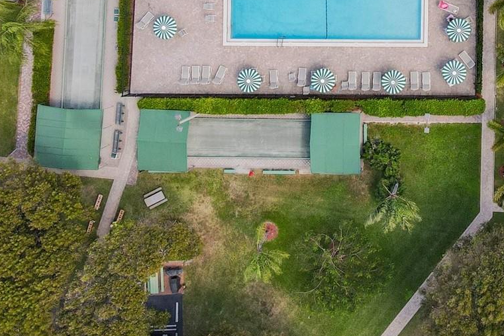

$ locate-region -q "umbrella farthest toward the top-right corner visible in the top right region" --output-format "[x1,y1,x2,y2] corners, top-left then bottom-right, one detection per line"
[446,18,471,41]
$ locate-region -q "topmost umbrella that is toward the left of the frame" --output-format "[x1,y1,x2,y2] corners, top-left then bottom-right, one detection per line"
[155,16,180,40]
